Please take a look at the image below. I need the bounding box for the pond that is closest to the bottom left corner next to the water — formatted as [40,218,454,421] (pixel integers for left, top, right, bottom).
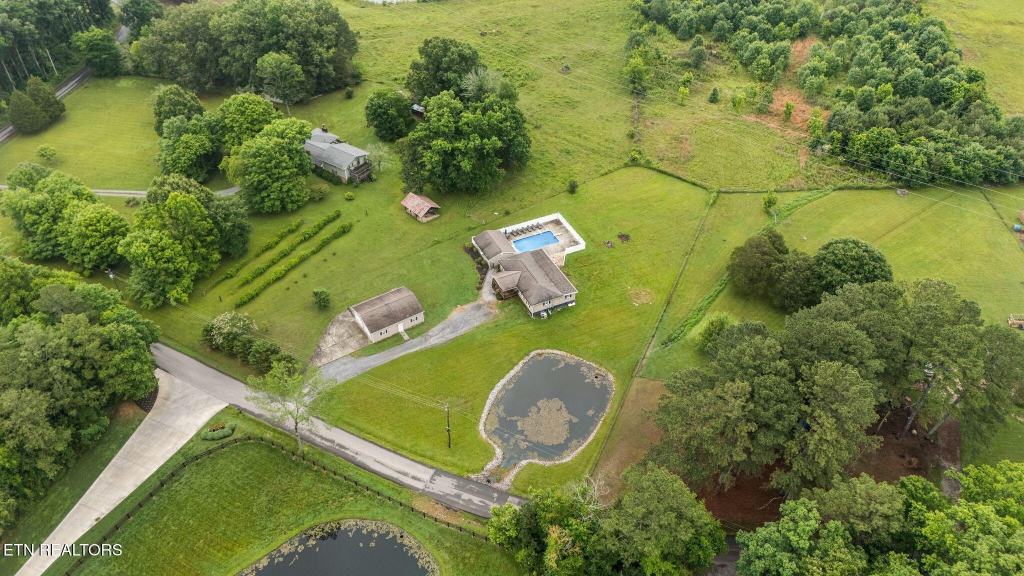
[245,521,438,576]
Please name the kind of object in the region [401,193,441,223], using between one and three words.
building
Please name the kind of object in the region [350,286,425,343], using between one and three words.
building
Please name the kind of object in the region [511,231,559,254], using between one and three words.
swimming pool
